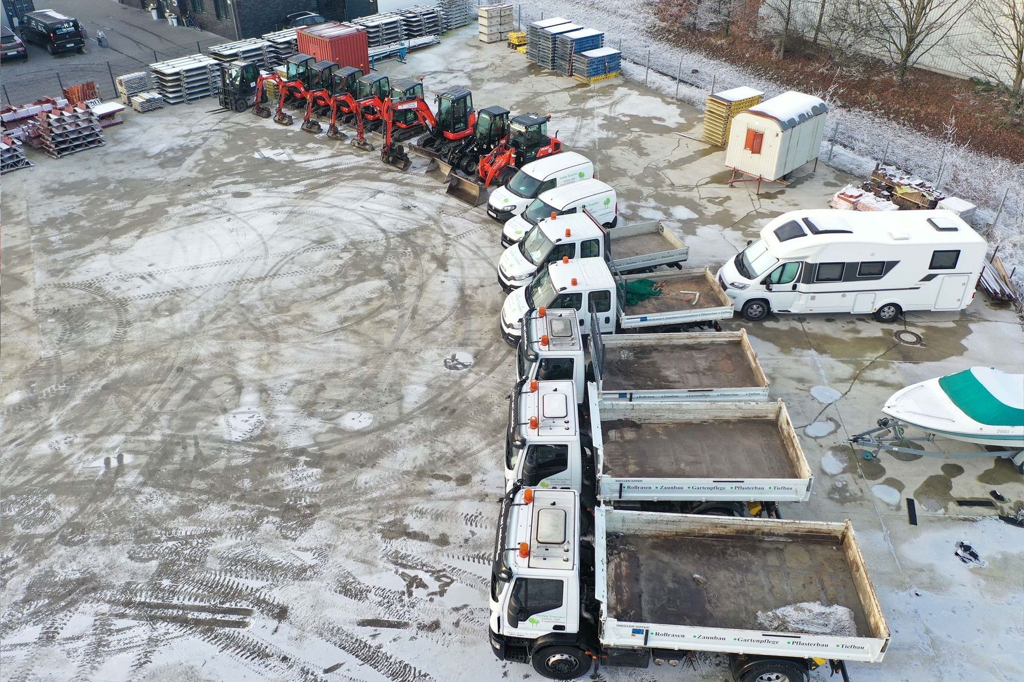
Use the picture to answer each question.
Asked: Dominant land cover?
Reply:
paved ground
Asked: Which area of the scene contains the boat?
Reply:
right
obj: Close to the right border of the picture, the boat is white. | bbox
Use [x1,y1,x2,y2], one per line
[880,372,1024,449]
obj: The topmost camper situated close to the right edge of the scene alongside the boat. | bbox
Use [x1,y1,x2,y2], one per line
[715,208,986,323]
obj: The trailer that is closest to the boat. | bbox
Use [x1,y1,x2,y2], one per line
[830,415,1024,463]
